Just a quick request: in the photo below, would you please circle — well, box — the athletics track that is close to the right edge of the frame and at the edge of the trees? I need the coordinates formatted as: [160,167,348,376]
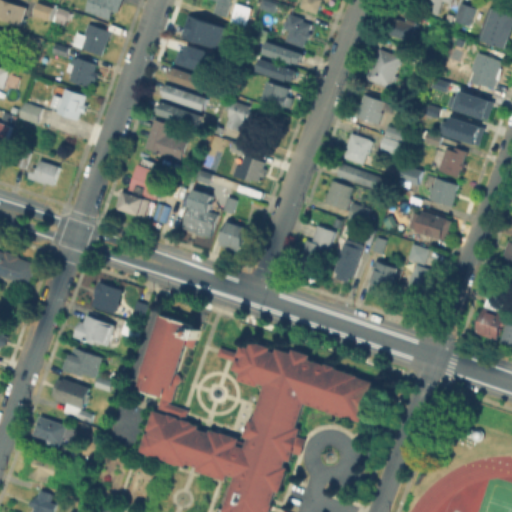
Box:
[412,456,512,512]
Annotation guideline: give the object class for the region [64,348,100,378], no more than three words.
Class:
house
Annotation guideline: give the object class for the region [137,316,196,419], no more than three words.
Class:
building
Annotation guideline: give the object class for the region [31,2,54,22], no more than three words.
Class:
building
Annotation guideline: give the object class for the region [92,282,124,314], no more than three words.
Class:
house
